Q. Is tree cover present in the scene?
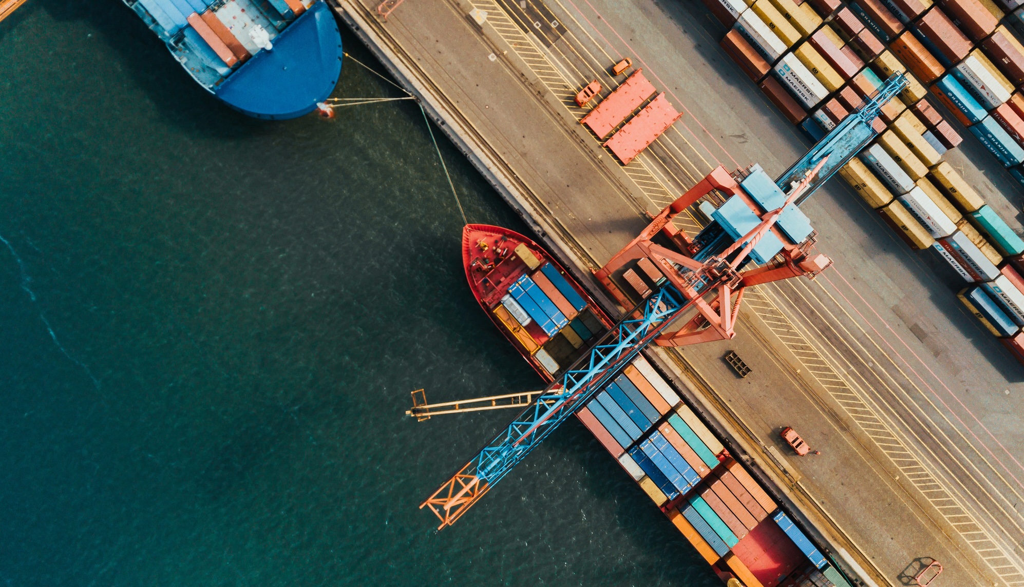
No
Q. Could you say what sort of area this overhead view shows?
port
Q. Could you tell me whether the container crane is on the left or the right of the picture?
right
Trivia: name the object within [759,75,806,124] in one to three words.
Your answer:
shipping container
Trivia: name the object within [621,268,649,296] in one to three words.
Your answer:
shipping container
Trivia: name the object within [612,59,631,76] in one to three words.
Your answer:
car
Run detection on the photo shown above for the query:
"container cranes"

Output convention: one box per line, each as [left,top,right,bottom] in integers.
[416,72,917,540]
